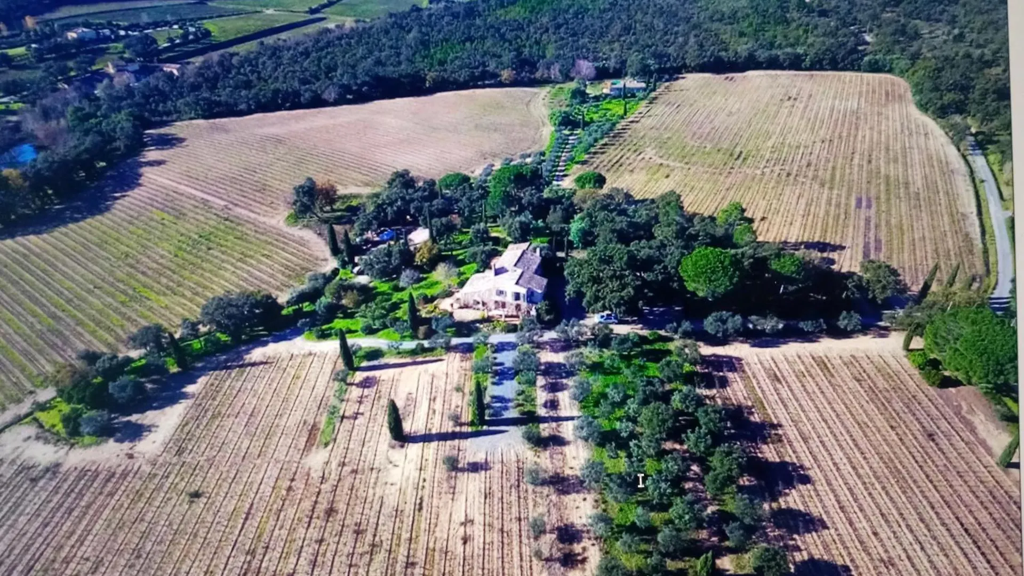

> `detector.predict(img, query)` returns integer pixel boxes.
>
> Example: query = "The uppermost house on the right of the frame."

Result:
[596,75,648,98]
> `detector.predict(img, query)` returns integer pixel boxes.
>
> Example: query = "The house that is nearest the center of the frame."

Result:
[458,245,551,313]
